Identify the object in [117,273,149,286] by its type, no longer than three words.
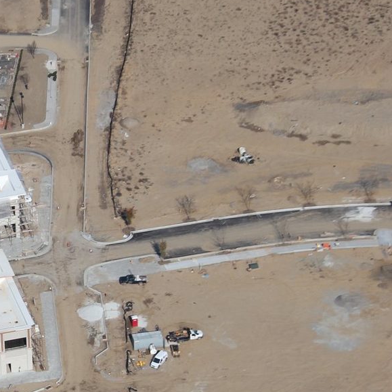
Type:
vehicle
